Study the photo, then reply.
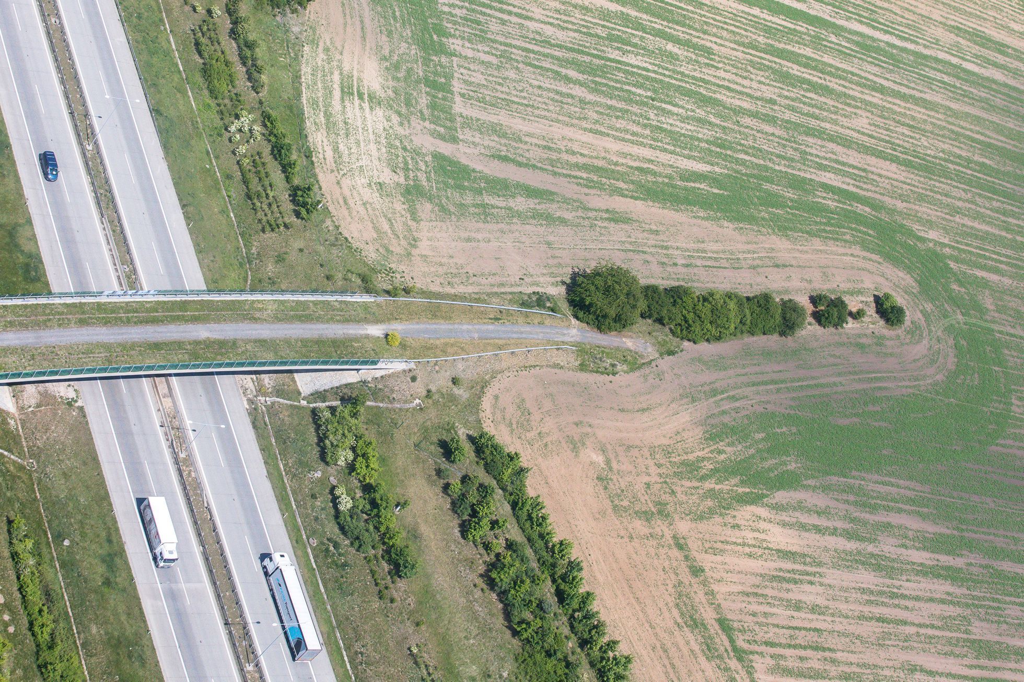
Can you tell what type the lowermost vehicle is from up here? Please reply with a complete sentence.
The lowermost vehicle appears to be a truck.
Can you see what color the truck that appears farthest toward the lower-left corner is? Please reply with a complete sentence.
The truck that appears farthest toward the lower-left corner is white.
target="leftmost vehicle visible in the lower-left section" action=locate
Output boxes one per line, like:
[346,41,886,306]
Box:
[140,497,181,572]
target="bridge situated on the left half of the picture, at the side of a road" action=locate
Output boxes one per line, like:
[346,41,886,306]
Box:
[0,294,429,383]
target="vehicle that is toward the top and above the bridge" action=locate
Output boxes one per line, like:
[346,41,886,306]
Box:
[42,153,60,182]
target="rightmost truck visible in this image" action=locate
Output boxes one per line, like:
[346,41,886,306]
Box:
[263,554,322,664]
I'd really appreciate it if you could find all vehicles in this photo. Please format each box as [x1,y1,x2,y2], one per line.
[42,153,60,182]
[140,497,181,572]
[263,554,322,664]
